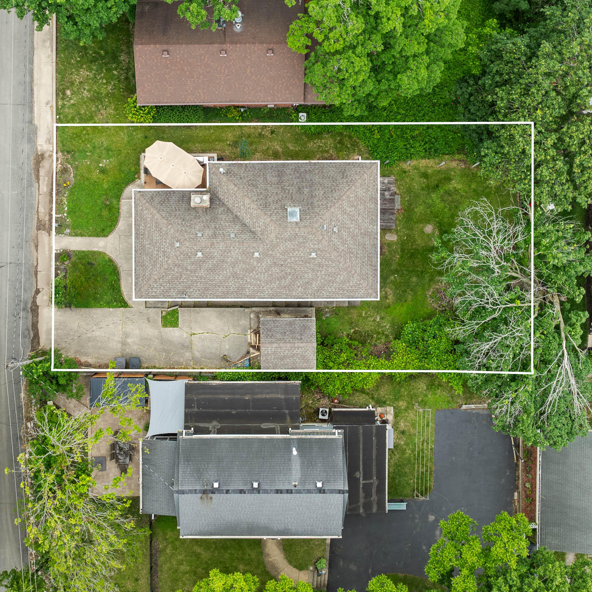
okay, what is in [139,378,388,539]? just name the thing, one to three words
house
